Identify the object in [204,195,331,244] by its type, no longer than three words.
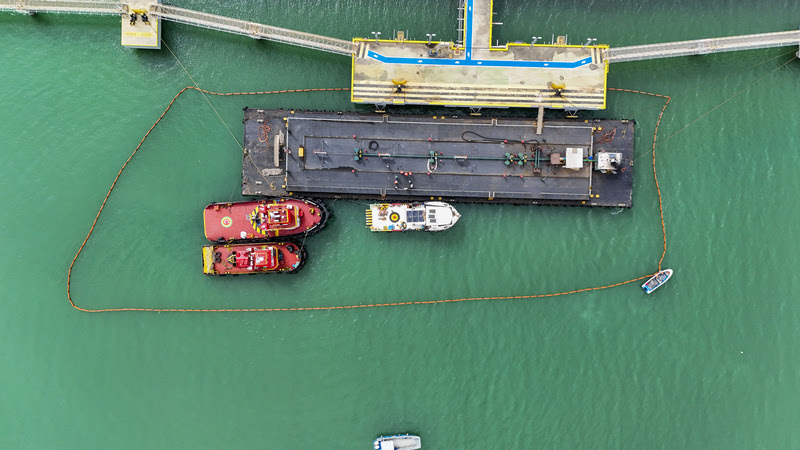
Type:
boat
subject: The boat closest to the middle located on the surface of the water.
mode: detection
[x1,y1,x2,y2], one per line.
[366,203,461,232]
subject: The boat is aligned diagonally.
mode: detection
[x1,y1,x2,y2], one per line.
[641,269,673,293]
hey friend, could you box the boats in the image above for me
[641,269,673,293]
[204,195,331,244]
[374,433,421,450]
[366,203,461,232]
[203,239,310,277]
